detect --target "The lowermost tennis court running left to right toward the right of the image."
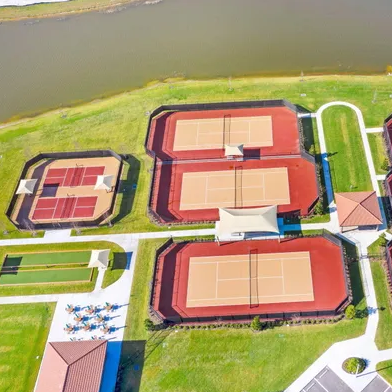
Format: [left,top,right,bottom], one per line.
[154,236,348,326]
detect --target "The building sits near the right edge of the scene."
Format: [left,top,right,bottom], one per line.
[334,191,383,233]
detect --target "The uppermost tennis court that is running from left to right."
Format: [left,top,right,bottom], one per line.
[148,106,301,162]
